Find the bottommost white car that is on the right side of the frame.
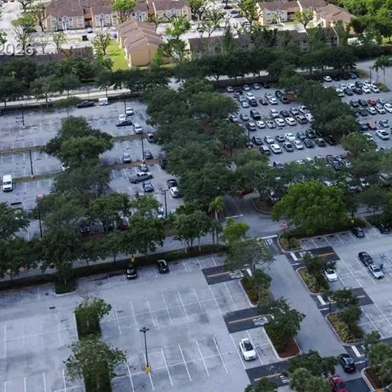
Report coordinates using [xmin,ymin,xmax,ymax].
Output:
[239,337,257,361]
